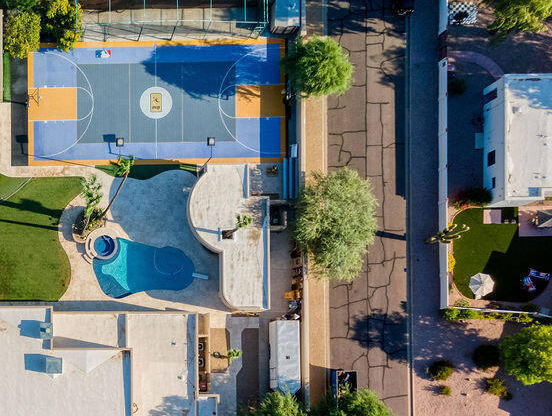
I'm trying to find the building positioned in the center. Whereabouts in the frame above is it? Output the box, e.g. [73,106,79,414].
[185,164,270,311]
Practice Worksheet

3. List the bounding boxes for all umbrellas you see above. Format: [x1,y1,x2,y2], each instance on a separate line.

[467,273,493,298]
[535,210,552,229]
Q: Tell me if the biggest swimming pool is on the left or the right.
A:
left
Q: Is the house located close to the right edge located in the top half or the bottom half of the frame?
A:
top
